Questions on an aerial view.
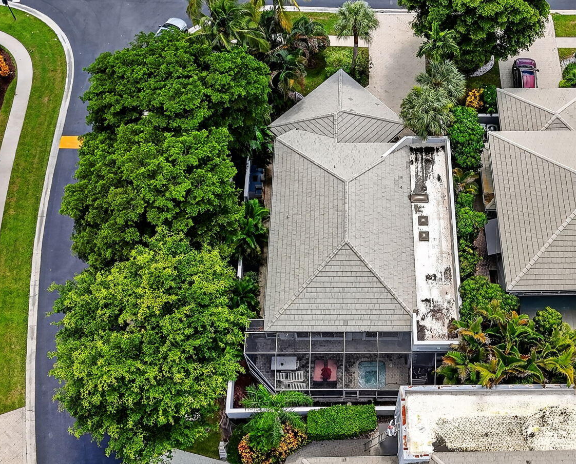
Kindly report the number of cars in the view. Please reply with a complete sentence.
I count 2 cars.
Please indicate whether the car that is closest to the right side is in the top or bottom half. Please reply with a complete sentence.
Seen from above, the car that is closest to the right side lies in the top half of the view.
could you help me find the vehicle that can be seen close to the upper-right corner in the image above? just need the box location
[510,59,539,87]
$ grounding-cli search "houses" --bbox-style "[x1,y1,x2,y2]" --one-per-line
[478,86,576,310]
[260,68,460,363]
[299,385,576,464]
